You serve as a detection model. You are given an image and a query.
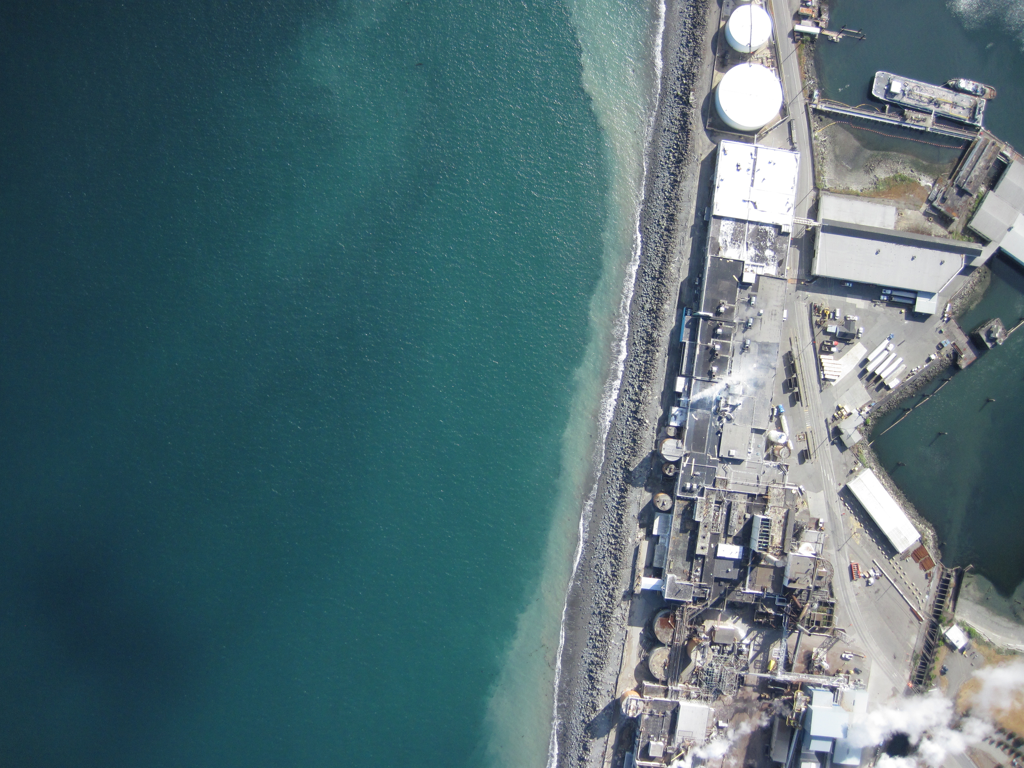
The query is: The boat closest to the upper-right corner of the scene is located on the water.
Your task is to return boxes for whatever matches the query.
[946,78,997,99]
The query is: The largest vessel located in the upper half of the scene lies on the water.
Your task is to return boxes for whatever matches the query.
[870,71,986,127]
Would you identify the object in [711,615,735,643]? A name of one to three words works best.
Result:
shed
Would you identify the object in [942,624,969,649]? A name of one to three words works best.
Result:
house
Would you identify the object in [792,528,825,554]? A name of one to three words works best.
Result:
building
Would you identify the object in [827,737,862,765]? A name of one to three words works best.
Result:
building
